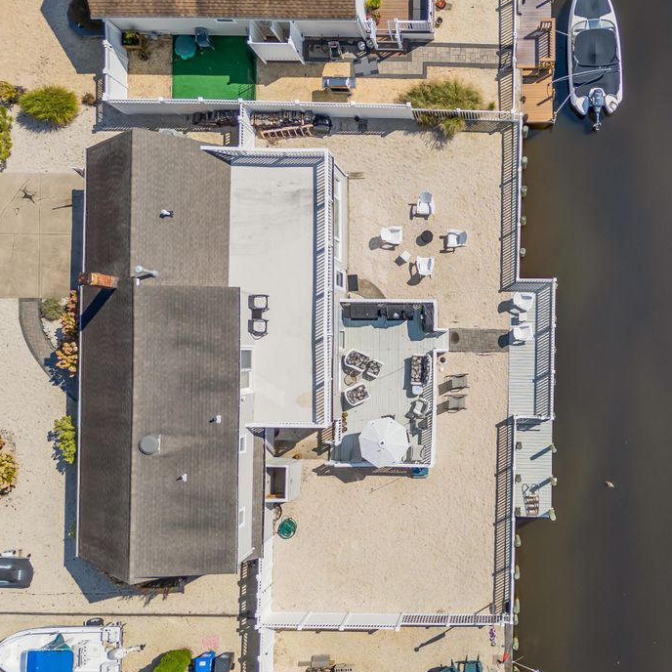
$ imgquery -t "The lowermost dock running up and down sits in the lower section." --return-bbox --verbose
[516,419,552,518]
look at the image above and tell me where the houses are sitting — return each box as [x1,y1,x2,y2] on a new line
[85,0,362,35]
[76,130,349,583]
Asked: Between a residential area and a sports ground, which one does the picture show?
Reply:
residential area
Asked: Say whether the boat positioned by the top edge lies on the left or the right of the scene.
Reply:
right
